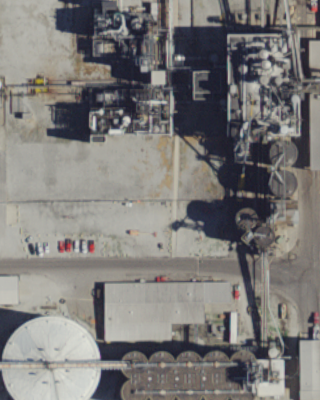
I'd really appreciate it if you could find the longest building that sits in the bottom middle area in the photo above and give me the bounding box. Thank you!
[103,282,230,340]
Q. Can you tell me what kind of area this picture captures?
industrial area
